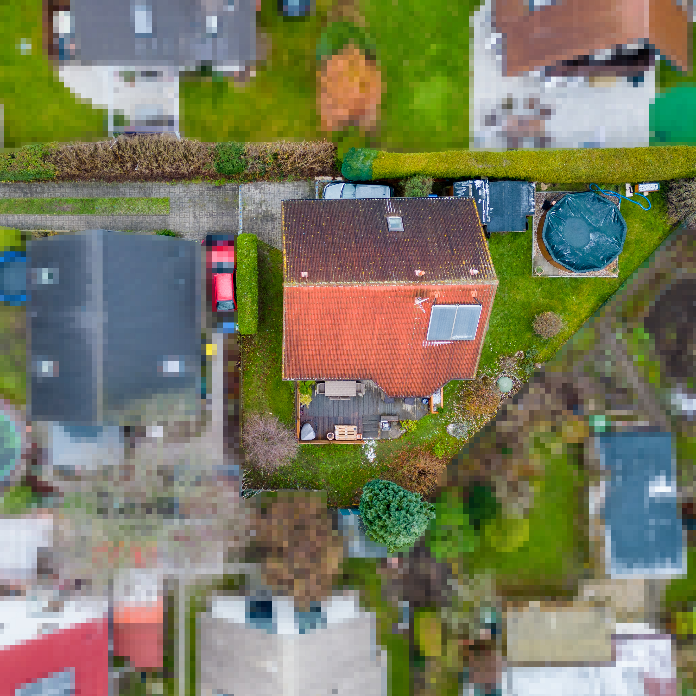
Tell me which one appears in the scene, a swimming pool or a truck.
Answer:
swimming pool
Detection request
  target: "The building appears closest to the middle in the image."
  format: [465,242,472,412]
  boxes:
[280,195,499,400]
